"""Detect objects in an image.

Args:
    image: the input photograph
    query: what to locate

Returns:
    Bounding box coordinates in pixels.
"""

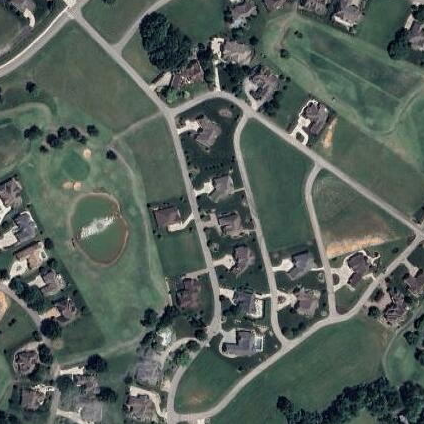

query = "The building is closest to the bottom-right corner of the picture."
[378,289,415,322]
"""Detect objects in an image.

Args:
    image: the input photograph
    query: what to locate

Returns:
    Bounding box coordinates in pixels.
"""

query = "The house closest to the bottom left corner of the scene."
[16,385,43,408]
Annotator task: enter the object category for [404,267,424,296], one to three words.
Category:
house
